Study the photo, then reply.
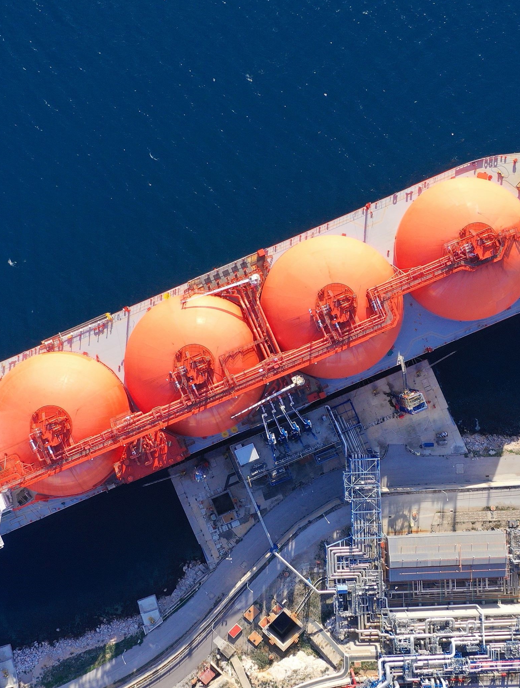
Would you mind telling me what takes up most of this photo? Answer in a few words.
water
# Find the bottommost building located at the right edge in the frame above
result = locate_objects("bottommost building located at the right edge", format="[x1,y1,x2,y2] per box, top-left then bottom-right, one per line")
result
[386,531,507,581]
